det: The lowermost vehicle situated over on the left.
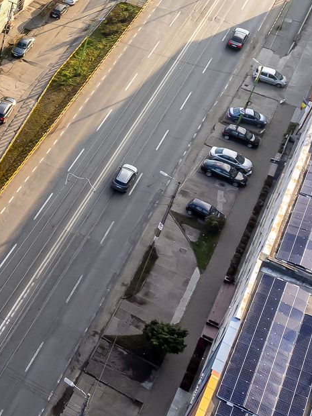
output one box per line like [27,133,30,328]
[109,163,140,196]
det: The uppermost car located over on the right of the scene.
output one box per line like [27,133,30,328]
[227,28,249,50]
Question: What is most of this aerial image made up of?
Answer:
paved ground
